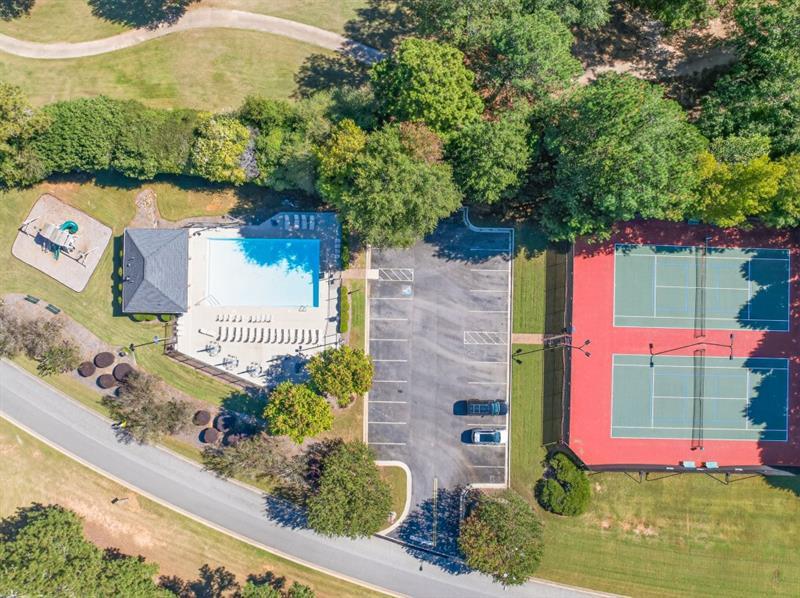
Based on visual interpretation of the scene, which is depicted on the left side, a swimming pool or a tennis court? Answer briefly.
swimming pool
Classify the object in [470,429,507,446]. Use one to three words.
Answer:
car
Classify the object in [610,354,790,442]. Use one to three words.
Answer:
tennis court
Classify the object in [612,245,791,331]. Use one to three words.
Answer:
tennis court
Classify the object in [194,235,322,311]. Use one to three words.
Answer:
swimming pool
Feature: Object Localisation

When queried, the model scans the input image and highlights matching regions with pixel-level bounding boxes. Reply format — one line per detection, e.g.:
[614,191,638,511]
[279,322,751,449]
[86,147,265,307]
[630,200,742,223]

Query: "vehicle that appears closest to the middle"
[466,399,505,417]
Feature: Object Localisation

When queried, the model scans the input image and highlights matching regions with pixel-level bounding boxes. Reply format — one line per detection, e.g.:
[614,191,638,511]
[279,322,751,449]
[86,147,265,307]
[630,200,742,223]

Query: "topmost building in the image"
[123,225,194,313]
